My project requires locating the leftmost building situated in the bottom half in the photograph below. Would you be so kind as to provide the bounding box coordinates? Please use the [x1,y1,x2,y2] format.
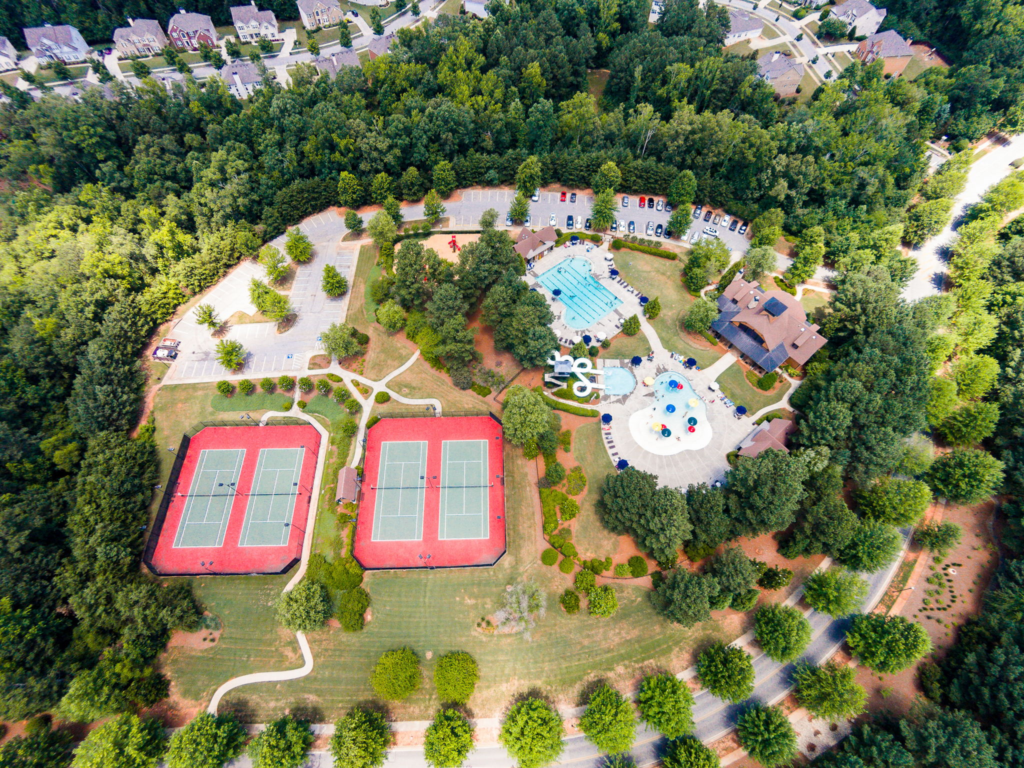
[334,467,361,505]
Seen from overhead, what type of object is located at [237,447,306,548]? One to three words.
tennis court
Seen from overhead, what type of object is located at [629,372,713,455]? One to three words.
swimming pool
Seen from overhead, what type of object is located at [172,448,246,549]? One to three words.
tennis court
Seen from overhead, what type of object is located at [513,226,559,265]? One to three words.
building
